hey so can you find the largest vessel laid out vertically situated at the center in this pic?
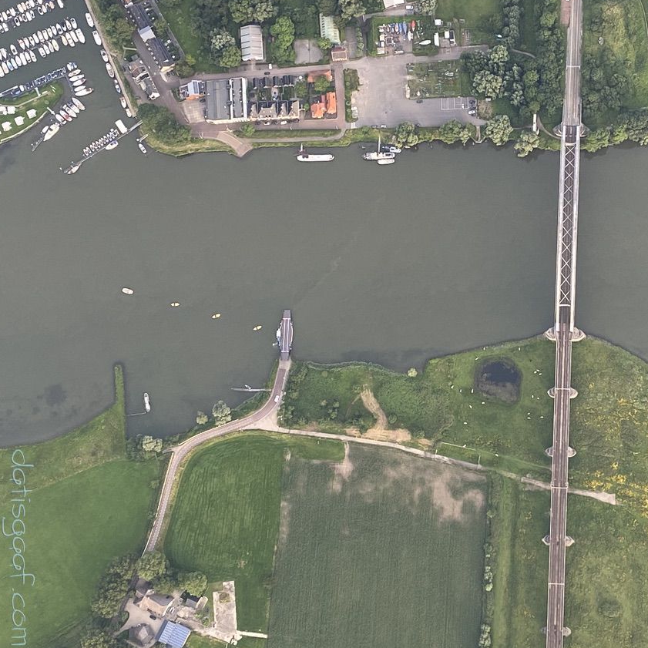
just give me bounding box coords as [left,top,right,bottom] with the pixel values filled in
[273,311,293,359]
